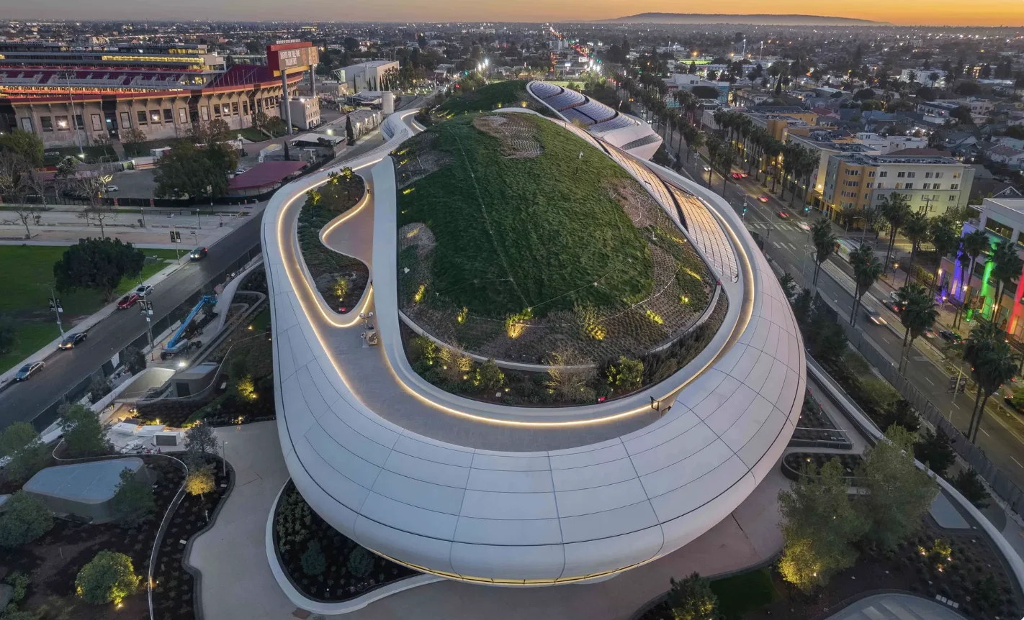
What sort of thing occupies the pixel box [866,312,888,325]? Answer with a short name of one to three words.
vehicle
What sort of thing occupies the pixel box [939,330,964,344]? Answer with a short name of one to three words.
car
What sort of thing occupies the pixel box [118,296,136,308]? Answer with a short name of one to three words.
vehicle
